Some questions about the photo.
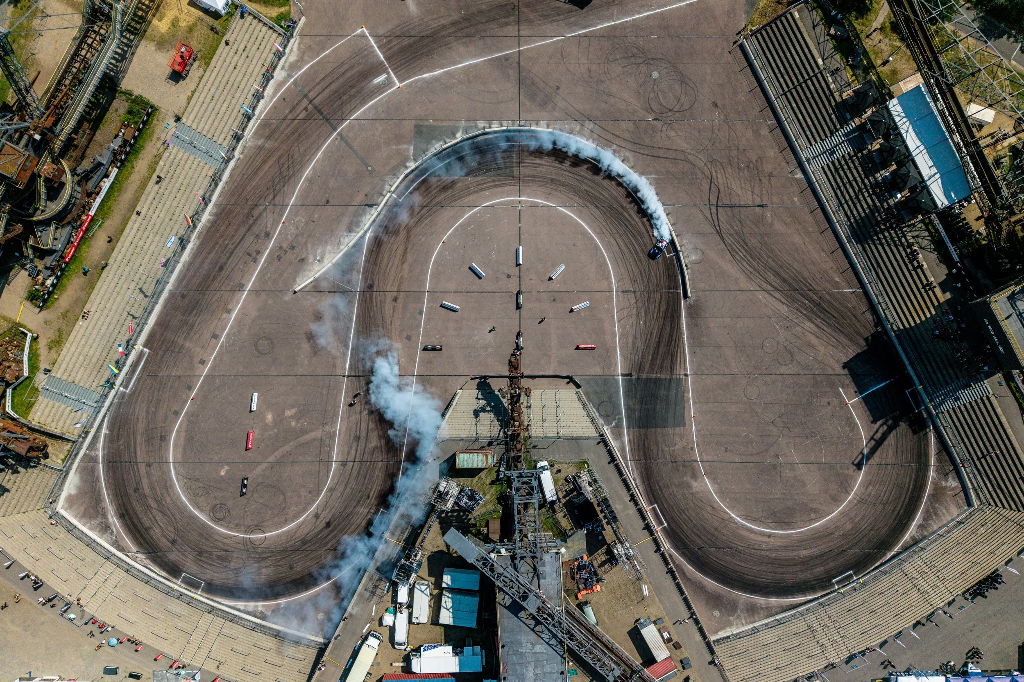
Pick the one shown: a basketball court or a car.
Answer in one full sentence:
I can see a car in this picture.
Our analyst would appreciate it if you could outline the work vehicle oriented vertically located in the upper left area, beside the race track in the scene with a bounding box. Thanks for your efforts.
[0,0,137,291]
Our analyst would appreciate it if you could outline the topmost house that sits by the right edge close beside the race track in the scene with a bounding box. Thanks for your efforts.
[940,232,1024,376]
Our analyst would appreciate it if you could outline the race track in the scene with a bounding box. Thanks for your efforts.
[100,0,934,606]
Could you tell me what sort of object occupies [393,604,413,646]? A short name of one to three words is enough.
vehicle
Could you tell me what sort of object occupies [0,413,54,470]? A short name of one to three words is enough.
work vehicle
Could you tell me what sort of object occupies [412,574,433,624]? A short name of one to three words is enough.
trailer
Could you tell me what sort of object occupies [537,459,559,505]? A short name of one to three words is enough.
vehicle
